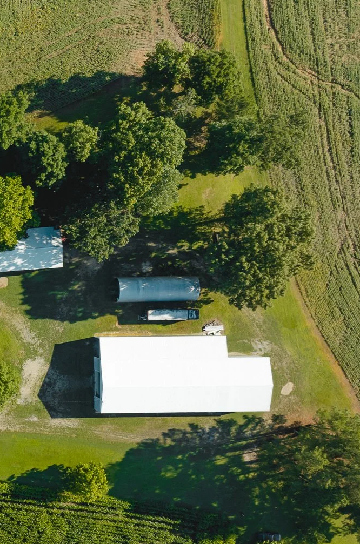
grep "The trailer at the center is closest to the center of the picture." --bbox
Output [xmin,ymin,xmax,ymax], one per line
[136,308,199,321]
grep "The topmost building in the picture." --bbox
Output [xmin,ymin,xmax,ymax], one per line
[0,227,64,271]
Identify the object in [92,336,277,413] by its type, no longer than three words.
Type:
barn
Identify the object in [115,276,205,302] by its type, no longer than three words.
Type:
shed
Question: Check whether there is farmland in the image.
Yes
